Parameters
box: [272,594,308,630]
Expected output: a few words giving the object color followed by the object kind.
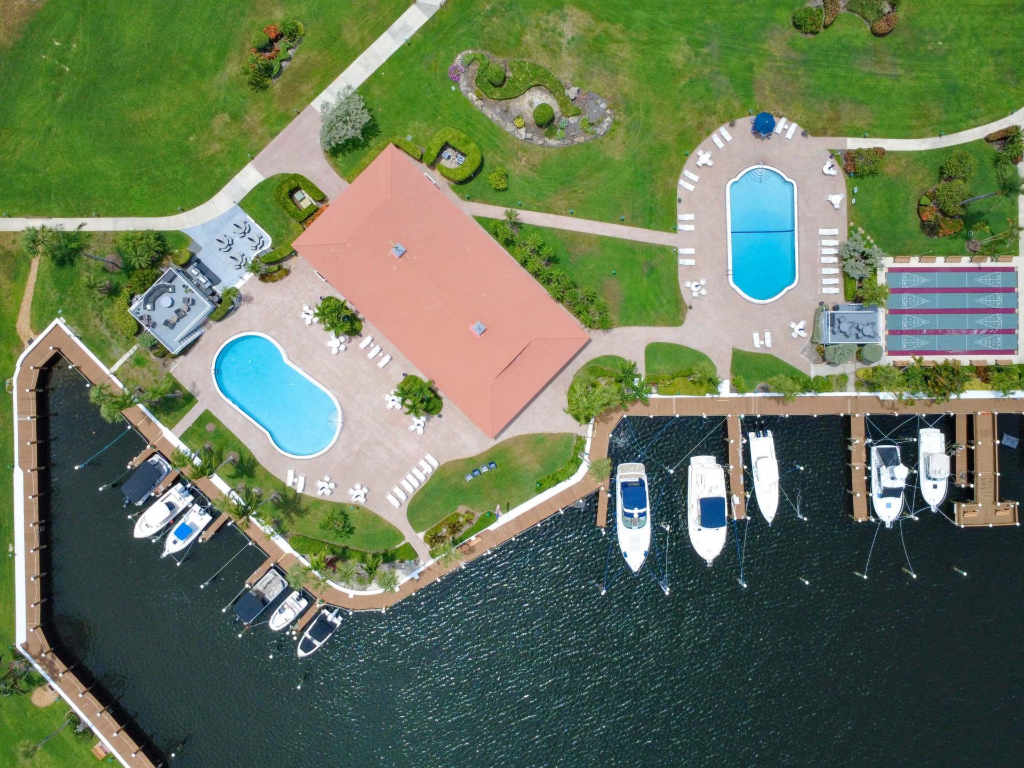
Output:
white boat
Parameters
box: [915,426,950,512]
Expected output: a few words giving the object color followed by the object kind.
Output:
white boat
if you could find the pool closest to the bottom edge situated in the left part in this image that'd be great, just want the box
[209,331,344,458]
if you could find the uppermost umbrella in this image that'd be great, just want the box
[753,114,774,135]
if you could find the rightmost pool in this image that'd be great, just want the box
[726,159,799,304]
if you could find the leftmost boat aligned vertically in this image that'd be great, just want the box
[616,462,650,572]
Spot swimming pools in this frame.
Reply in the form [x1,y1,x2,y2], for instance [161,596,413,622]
[209,331,344,458]
[726,159,799,304]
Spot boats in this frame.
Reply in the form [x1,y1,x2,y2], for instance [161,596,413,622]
[685,453,726,568]
[231,569,286,626]
[868,446,912,527]
[272,594,308,630]
[118,456,171,505]
[298,611,337,656]
[915,426,950,512]
[749,427,781,526]
[160,508,210,557]
[132,480,193,536]
[616,462,650,572]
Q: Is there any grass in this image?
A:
Yes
